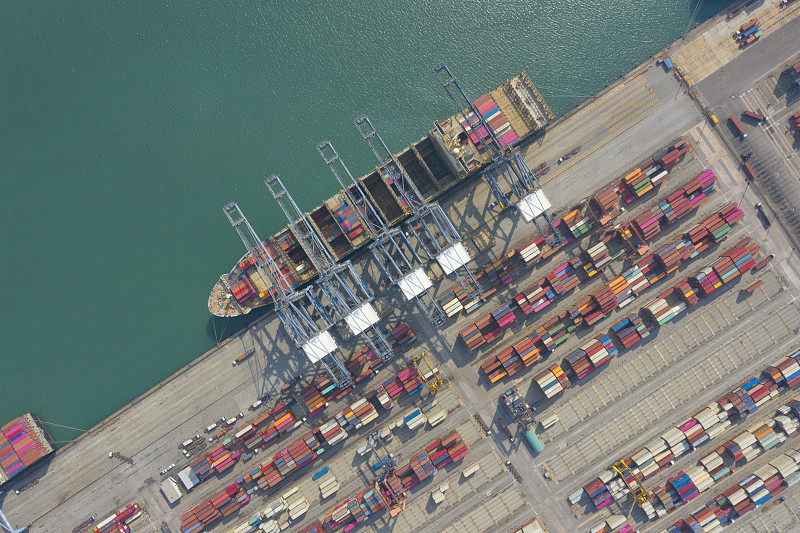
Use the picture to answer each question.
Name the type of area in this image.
port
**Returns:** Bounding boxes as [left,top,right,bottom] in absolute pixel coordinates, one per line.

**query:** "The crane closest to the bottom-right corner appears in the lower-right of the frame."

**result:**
[604,452,647,501]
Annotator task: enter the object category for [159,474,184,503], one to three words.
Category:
building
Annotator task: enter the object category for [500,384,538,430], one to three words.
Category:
crane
